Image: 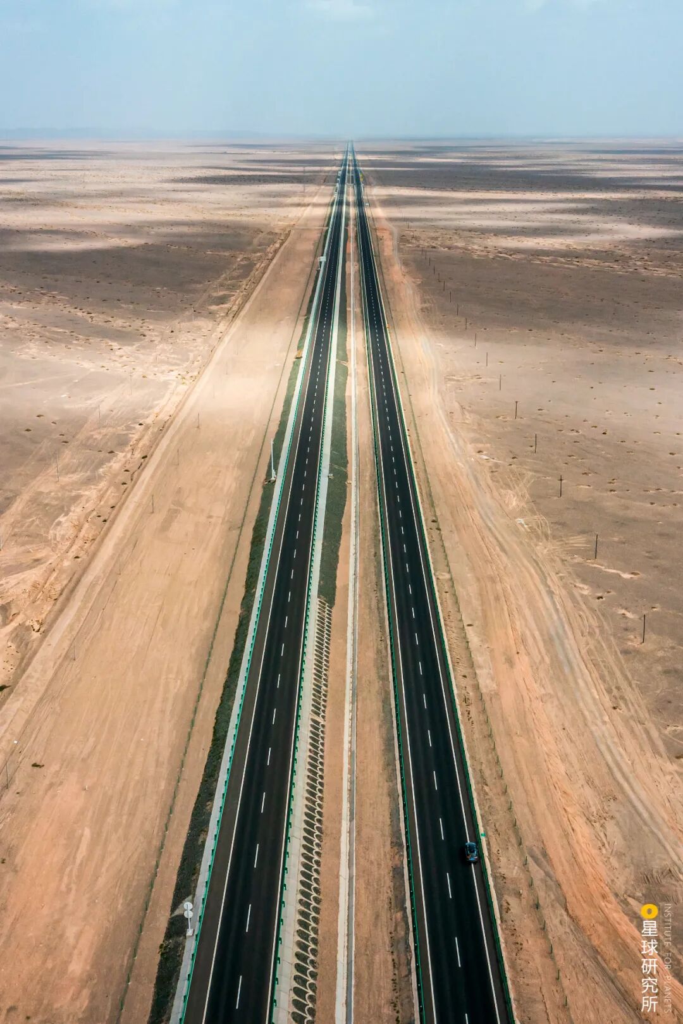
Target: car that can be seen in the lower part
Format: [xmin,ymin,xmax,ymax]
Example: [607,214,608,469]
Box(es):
[462,841,478,863]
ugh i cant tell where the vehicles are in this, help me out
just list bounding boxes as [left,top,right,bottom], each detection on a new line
[462,841,478,863]
[296,351,306,359]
